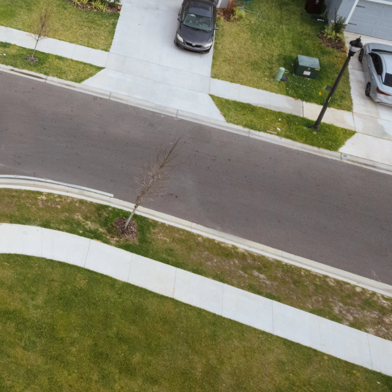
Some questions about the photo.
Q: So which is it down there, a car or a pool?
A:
car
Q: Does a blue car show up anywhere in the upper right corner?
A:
No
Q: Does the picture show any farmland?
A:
No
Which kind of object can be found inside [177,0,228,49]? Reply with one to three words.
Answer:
car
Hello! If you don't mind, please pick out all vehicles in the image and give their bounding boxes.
[358,40,392,105]
[177,0,228,49]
